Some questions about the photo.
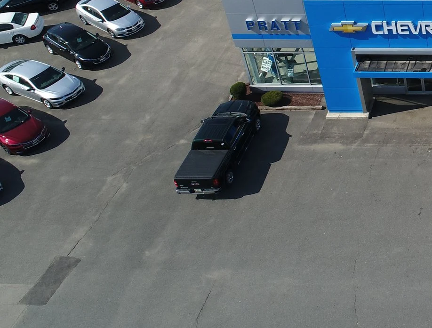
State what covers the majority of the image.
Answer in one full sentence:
The scene is dominated by paved ground.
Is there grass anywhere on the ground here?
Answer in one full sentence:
No, there is no grass in the image.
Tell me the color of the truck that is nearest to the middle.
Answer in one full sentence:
From above, the truck that is nearest to the middle appears black.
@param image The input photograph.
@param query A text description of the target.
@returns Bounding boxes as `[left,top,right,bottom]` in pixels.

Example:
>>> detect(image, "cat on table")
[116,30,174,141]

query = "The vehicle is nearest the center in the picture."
[171,102,261,198]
